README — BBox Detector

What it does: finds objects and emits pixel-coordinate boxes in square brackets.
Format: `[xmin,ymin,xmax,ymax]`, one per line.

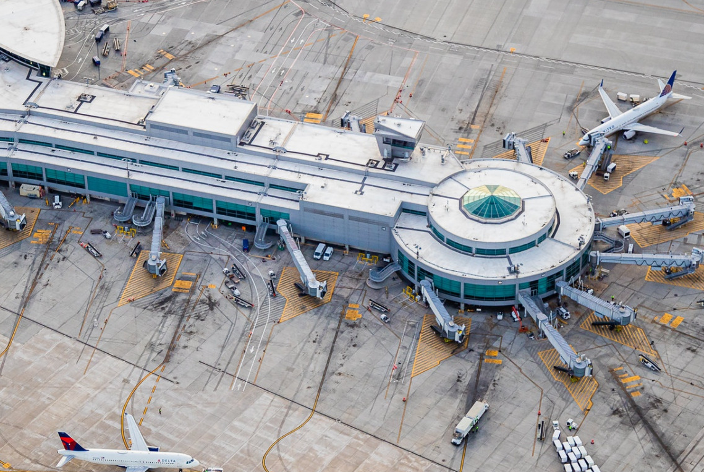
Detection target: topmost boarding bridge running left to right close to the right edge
[595,201,697,244]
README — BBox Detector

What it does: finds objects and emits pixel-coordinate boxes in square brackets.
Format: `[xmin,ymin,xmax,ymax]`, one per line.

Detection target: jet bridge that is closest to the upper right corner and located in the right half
[575,136,612,195]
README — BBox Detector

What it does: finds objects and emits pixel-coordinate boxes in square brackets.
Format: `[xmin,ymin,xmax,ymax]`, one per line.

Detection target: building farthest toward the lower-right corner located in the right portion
[393,161,596,313]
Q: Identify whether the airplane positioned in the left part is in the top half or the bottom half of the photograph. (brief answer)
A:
bottom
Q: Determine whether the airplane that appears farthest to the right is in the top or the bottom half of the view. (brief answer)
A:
top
